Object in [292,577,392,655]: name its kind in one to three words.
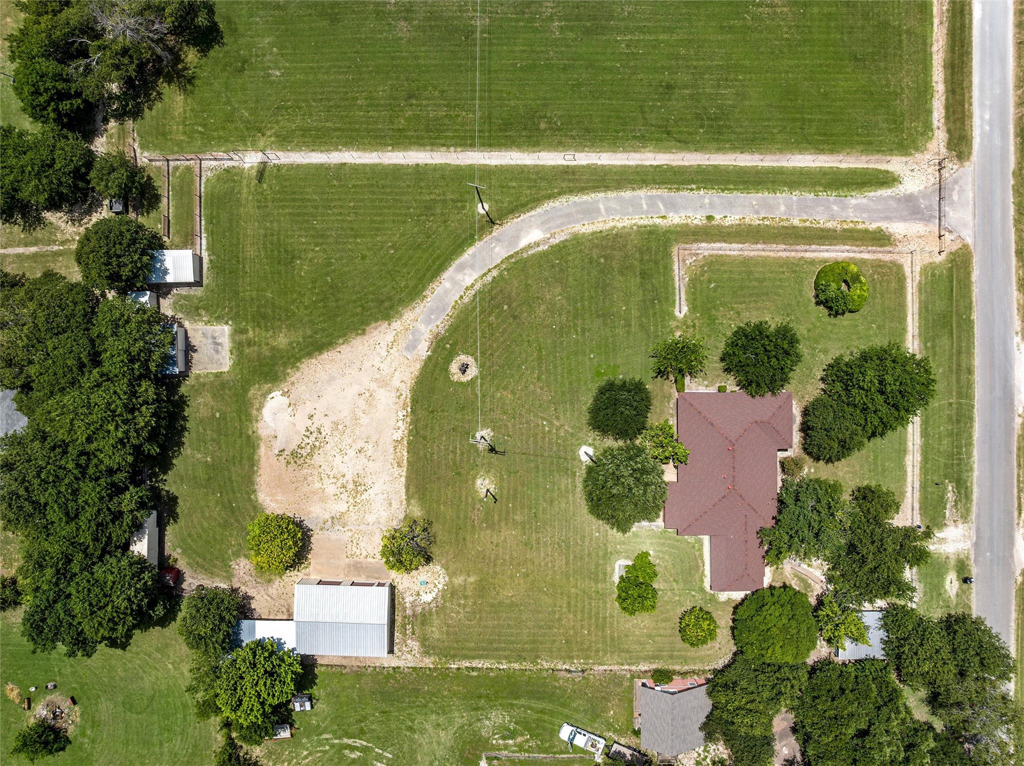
building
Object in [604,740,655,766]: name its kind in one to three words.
trailer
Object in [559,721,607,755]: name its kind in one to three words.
truck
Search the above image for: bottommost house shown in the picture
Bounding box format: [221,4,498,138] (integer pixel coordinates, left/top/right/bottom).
[634,680,708,766]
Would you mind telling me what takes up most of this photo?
grass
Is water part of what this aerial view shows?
No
